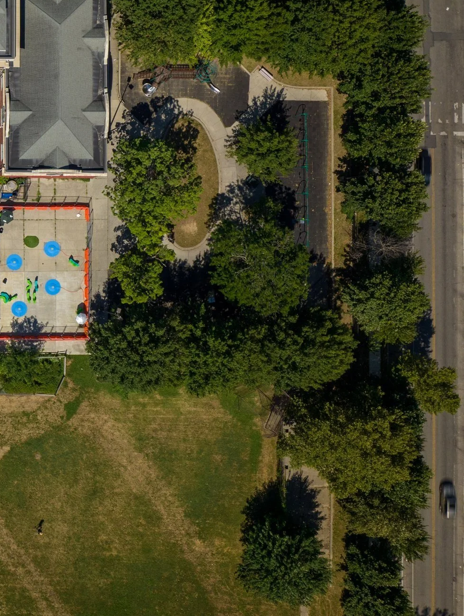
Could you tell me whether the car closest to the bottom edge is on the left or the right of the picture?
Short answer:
right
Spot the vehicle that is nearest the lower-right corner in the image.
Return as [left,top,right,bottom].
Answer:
[442,486,462,520]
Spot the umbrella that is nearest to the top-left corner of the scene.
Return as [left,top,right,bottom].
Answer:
[0,211,13,226]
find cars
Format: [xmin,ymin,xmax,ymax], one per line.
[419,152,437,187]
[442,486,462,520]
